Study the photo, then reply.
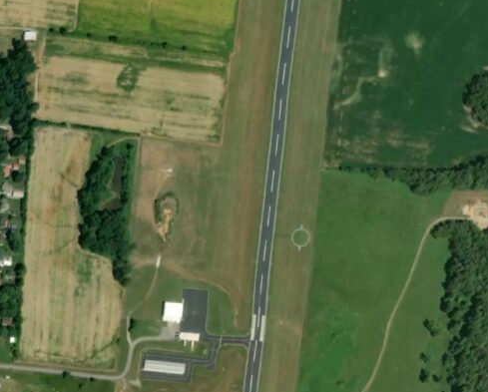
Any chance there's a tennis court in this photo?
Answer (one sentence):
No, I can see no tennis court in this picture.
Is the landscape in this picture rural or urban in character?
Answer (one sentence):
This place is rural.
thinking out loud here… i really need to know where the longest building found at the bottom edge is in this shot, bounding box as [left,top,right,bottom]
[143,360,185,374]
